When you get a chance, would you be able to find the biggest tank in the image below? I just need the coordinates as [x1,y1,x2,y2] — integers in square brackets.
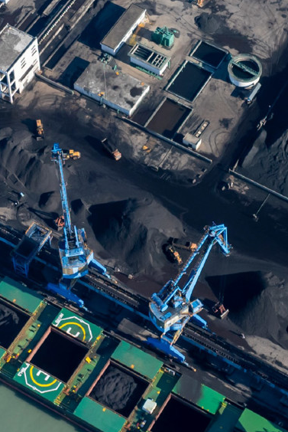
[231,59,261,101]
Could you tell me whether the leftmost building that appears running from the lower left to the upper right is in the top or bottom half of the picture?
top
